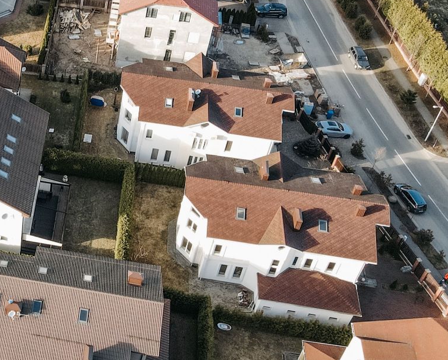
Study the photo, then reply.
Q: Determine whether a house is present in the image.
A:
Yes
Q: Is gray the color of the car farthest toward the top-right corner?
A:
Yes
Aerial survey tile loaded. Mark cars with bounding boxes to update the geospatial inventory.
[256,1,290,18]
[394,178,435,213]
[315,119,358,138]
[346,42,374,67]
